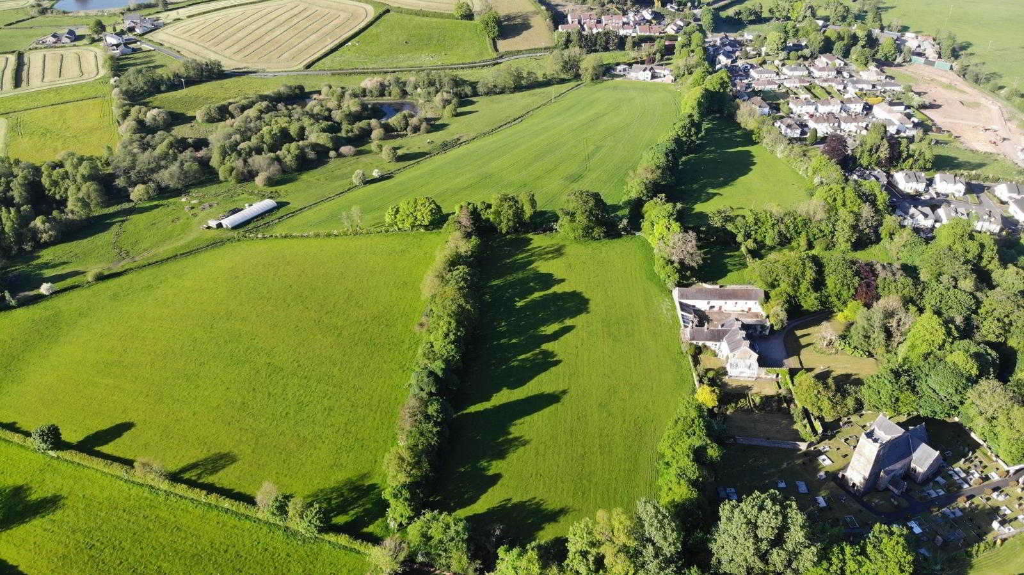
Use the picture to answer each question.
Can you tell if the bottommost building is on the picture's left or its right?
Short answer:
right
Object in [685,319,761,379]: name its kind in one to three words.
house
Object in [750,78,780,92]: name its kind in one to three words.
house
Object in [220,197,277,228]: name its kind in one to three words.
greenhouse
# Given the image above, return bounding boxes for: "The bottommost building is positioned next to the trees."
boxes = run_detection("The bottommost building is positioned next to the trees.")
[834,414,946,498]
